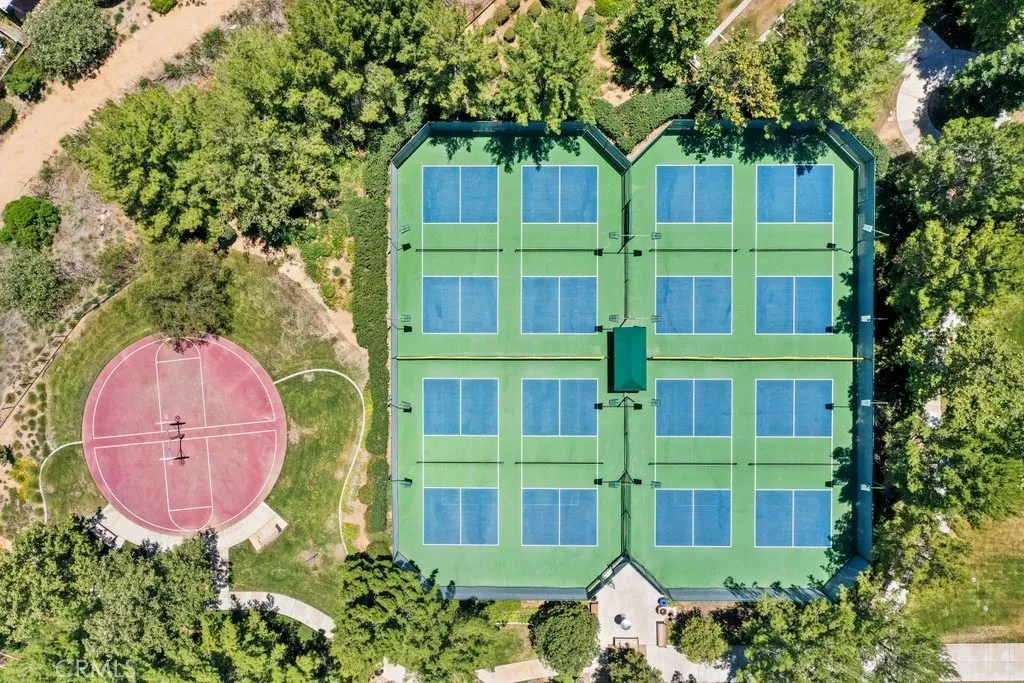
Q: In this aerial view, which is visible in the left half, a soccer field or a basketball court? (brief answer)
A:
basketball court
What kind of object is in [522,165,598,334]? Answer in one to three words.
sports court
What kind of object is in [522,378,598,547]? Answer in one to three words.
sports court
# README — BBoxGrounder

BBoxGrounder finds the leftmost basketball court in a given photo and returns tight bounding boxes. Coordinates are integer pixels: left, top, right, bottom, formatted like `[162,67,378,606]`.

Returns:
[83,334,286,537]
